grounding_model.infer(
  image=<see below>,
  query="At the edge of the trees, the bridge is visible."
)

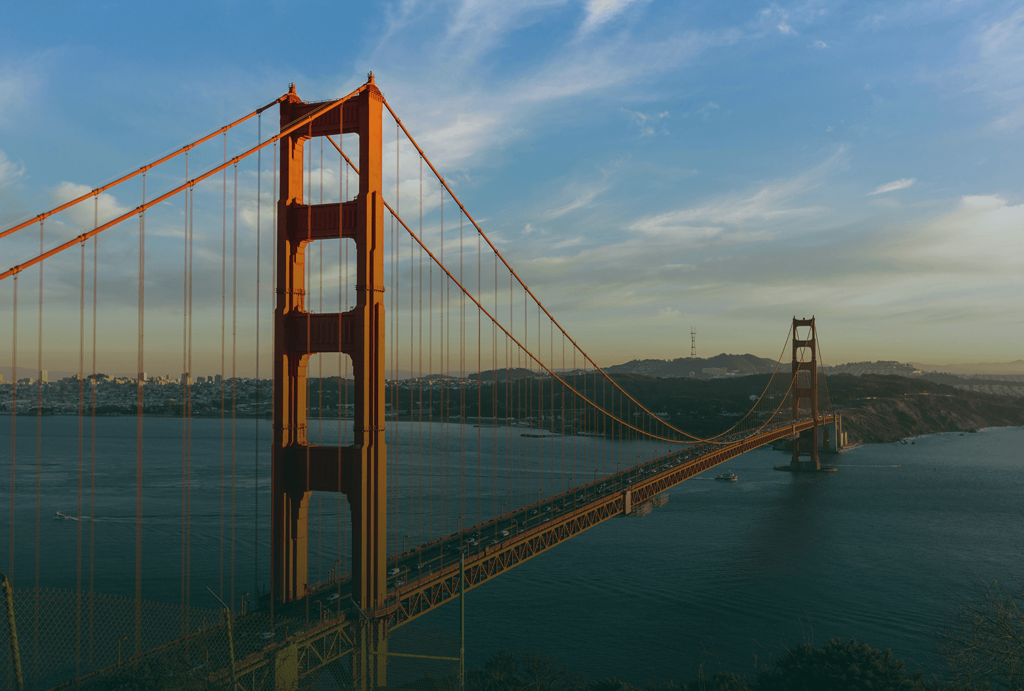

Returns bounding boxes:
[0,72,844,691]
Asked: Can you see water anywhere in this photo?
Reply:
Yes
